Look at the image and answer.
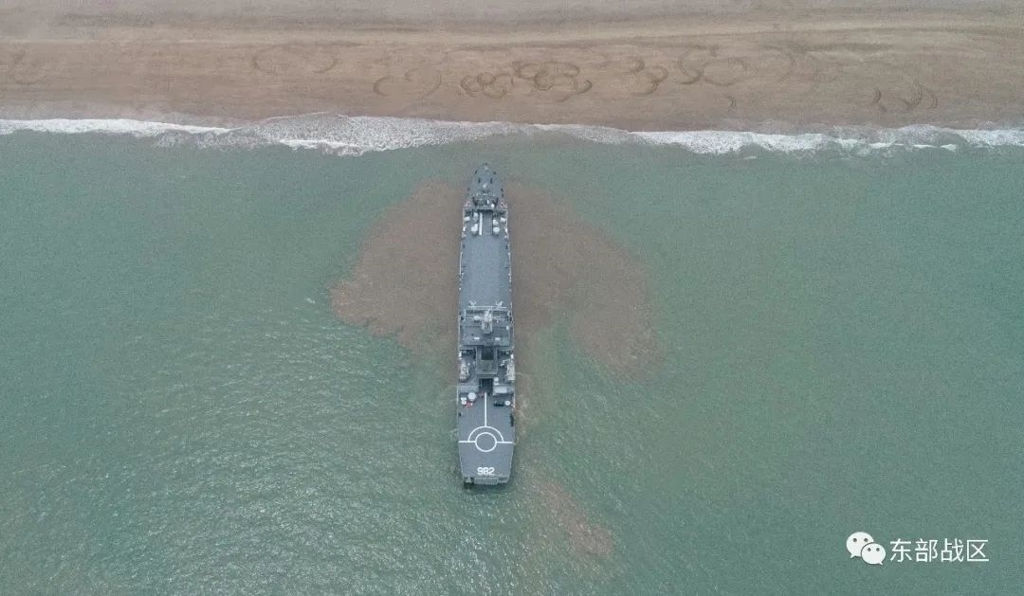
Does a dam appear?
No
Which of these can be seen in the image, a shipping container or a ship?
ship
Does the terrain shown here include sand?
Yes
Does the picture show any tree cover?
No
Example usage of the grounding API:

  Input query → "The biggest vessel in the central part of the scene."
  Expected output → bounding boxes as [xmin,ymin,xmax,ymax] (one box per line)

[456,161,516,485]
